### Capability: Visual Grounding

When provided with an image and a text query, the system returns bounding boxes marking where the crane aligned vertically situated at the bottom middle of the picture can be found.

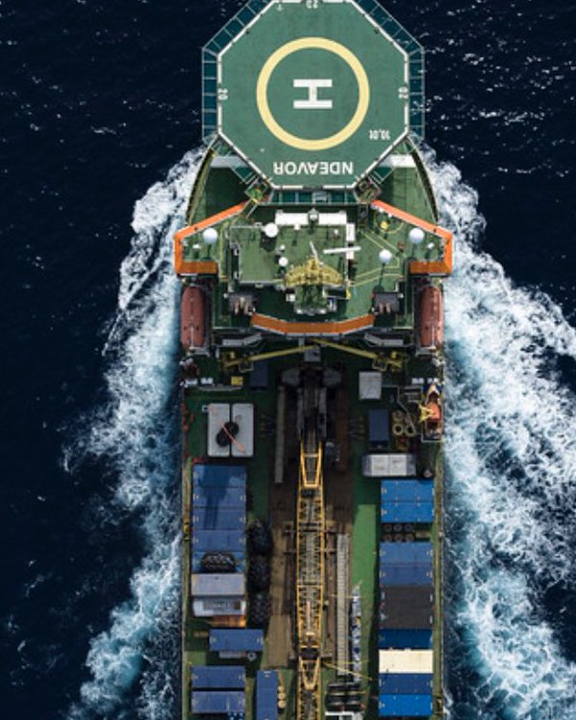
[282,368,341,720]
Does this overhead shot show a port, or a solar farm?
port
